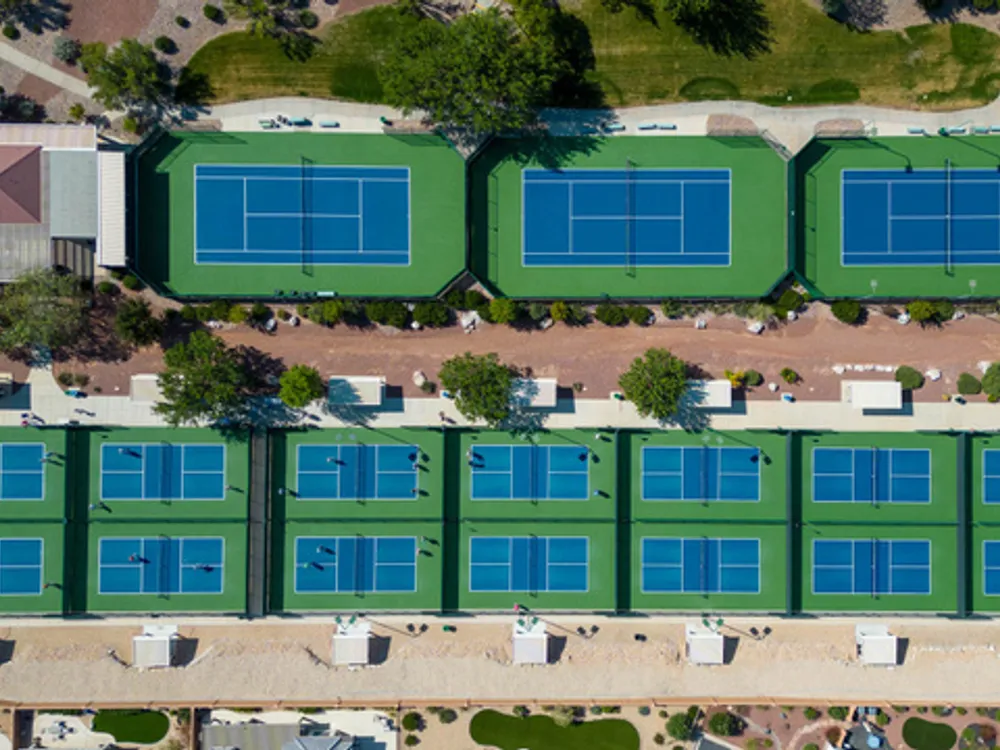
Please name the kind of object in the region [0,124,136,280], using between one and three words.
building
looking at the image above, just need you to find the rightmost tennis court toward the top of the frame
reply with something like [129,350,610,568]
[794,138,1000,299]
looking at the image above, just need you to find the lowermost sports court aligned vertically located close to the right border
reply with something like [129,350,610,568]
[966,526,1000,612]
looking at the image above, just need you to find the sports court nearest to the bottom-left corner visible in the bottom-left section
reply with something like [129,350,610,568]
[0,522,65,611]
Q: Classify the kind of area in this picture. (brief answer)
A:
sports ground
